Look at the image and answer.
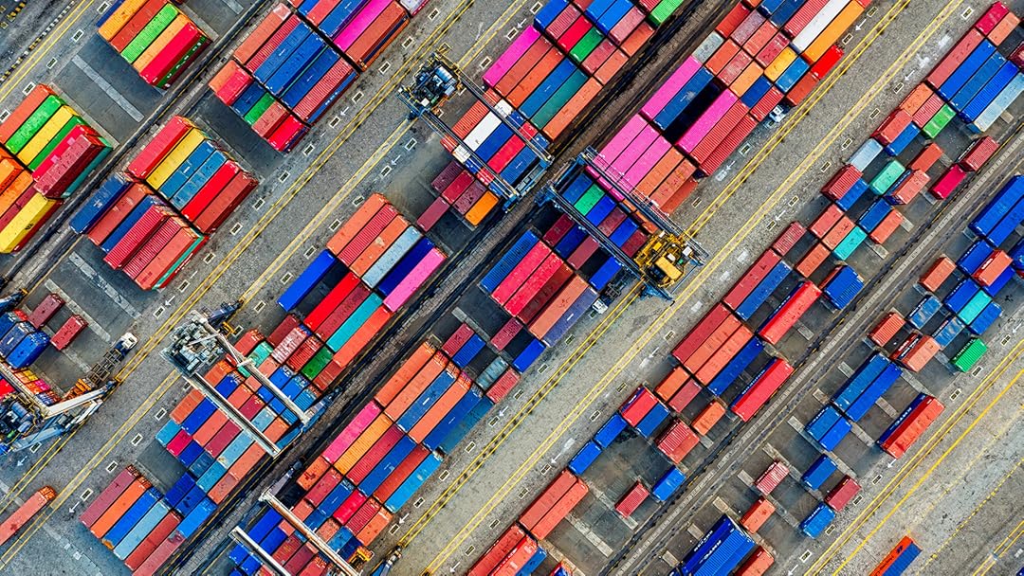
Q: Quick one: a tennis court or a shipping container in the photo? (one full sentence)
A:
I can see a shipping container in this picture.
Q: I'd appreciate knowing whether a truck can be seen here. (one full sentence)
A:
Yes, the photo shows a truck.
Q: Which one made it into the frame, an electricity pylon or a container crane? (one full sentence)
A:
I can see a container crane in this picture.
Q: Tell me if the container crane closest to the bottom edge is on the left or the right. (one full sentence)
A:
It is on the left.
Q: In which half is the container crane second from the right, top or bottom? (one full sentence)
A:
It is in the top half that the container crane second from the right appears.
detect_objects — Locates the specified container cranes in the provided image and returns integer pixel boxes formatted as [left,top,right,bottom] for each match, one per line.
[222,450,406,576]
[535,132,713,300]
[392,39,566,213]
[0,355,118,460]
[150,294,345,468]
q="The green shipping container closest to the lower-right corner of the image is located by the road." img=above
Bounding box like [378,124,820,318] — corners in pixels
[950,337,990,374]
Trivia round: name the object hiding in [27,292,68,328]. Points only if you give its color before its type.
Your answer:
red shipping container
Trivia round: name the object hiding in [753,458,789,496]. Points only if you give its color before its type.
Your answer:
red shipping container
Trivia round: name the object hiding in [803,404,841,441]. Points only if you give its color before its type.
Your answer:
blue shipping container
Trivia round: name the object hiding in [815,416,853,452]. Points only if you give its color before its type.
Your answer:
blue shipping container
